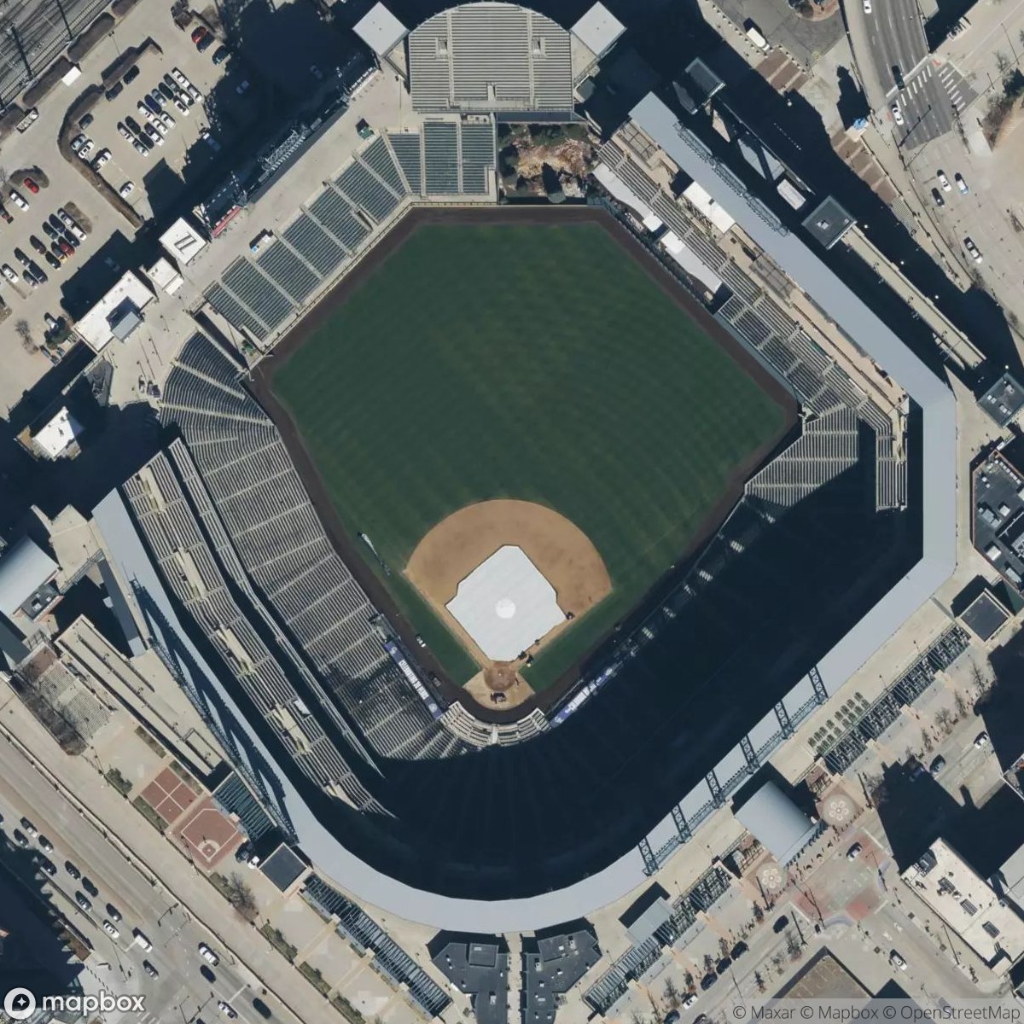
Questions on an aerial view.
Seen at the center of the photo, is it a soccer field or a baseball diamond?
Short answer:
baseball diamond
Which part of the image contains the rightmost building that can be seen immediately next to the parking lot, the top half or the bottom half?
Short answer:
top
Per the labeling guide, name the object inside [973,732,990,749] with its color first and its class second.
white car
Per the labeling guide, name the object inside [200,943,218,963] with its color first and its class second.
white vehicle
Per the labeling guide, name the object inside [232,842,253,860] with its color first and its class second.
black vehicle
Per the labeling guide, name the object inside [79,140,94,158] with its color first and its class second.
white car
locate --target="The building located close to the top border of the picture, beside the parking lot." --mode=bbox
[353,3,410,59]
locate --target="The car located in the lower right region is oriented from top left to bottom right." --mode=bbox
[891,952,907,970]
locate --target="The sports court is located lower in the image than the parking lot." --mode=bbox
[141,767,198,825]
